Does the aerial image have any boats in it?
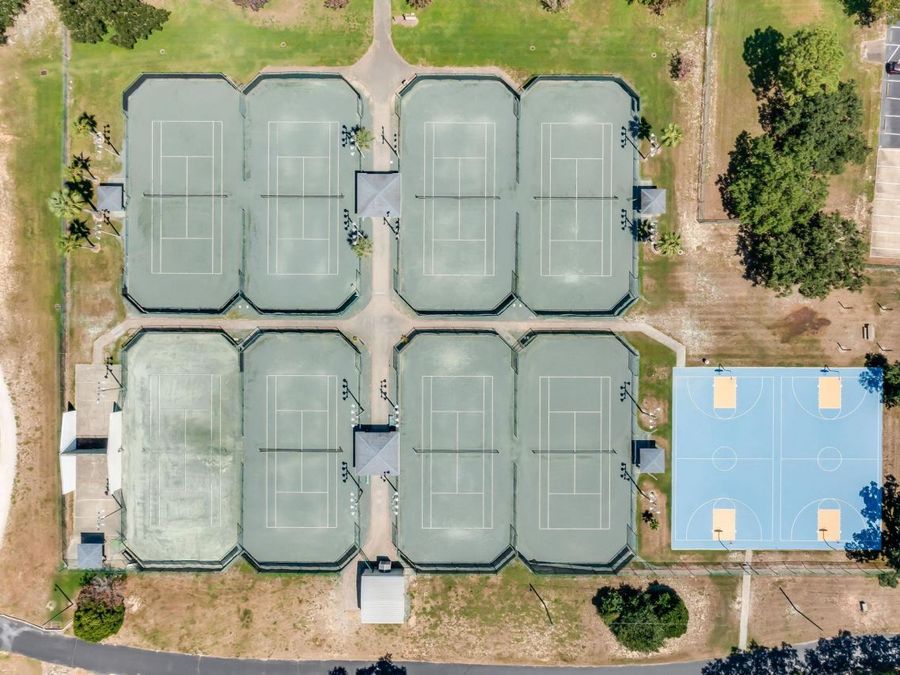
No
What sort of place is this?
sports ground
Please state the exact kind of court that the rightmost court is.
basketball court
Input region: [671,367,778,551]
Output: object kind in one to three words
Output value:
basketball court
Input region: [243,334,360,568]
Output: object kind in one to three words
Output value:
tennis court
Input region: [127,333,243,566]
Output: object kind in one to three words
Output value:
tennis court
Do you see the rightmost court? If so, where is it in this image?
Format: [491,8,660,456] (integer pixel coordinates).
[777,367,883,551]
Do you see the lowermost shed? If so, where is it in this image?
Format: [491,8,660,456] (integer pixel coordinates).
[361,570,404,623]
